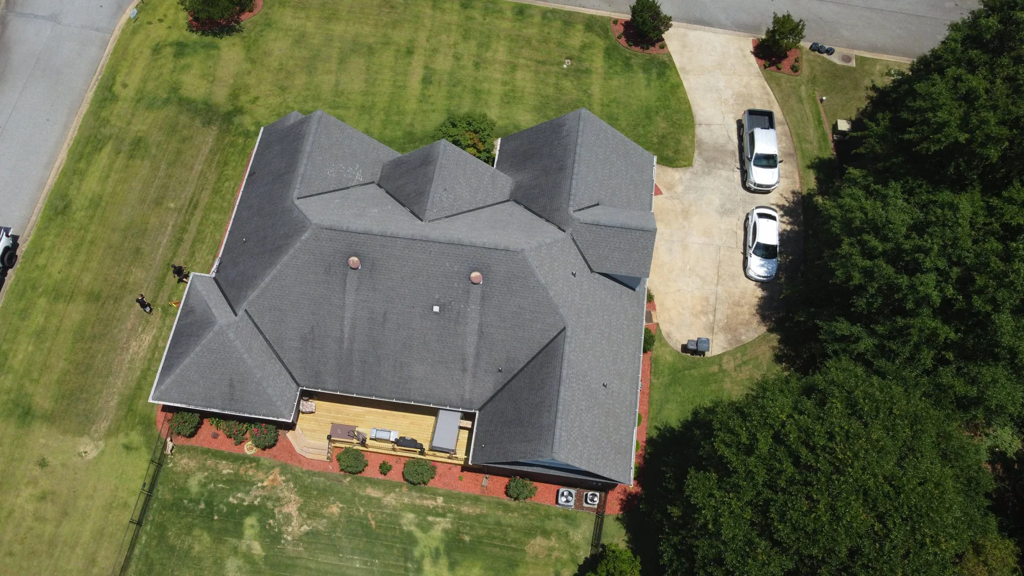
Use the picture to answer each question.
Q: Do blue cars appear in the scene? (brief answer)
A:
No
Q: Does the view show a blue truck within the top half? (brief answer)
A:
No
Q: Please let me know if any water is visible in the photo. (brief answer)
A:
No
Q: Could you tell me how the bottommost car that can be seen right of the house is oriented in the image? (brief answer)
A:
from top to bottom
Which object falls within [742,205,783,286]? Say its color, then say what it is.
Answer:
white car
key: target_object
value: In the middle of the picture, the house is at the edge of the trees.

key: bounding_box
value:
[151,106,660,485]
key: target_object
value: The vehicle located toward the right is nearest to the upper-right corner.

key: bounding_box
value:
[740,109,784,195]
